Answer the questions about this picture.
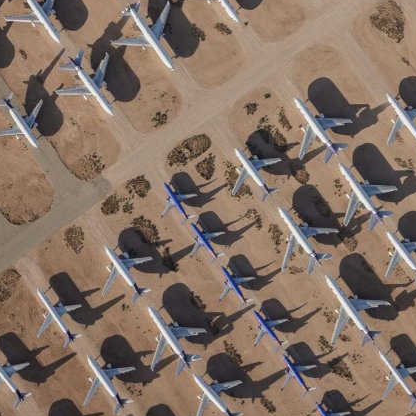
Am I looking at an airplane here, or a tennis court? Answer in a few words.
airplane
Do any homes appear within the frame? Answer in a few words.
No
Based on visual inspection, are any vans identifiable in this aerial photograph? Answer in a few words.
No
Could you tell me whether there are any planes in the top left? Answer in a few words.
Yes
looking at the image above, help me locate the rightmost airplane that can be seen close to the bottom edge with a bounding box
[379,352,416,408]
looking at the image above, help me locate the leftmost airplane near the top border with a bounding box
[3,0,59,43]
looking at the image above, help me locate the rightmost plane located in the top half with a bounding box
[385,94,416,154]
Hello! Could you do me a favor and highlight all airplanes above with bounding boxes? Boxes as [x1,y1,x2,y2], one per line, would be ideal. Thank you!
[383,232,416,285]
[282,355,317,397]
[161,183,197,224]
[219,266,255,309]
[294,98,353,163]
[385,94,416,154]
[148,307,205,373]
[316,403,350,416]
[338,163,397,229]
[254,312,288,351]
[53,51,113,115]
[190,223,224,263]
[37,289,82,347]
[0,94,41,147]
[0,360,31,406]
[3,0,59,43]
[325,276,390,349]
[379,352,416,408]
[232,149,280,202]
[109,0,173,69]
[199,0,238,22]
[82,355,135,414]
[278,208,339,275]
[103,246,153,302]
[193,374,242,416]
